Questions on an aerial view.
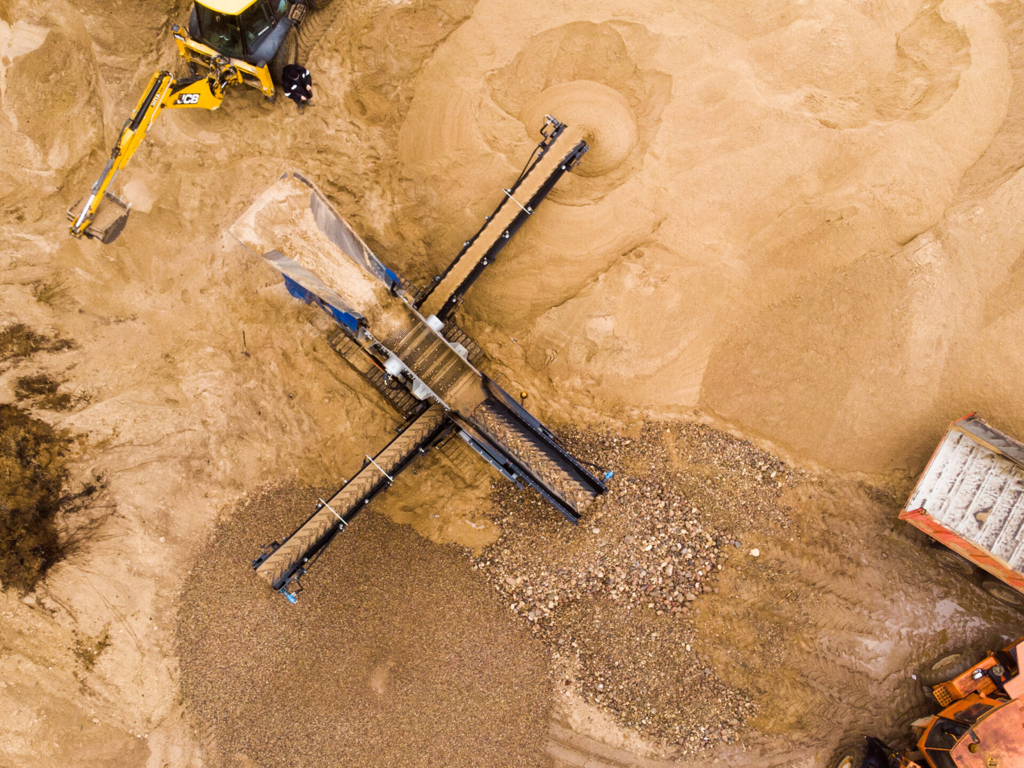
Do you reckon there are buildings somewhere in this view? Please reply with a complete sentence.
No, there appears to be no building in this shot.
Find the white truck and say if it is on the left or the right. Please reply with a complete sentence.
The white truck appears in the right half of the scene.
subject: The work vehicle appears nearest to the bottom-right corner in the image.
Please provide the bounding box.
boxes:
[820,619,1024,768]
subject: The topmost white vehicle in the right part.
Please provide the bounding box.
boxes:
[893,411,1024,621]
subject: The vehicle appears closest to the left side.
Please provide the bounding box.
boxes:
[66,0,344,238]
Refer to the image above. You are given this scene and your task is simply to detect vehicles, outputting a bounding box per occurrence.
[66,0,344,238]
[893,411,1024,621]
[820,619,1024,768]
